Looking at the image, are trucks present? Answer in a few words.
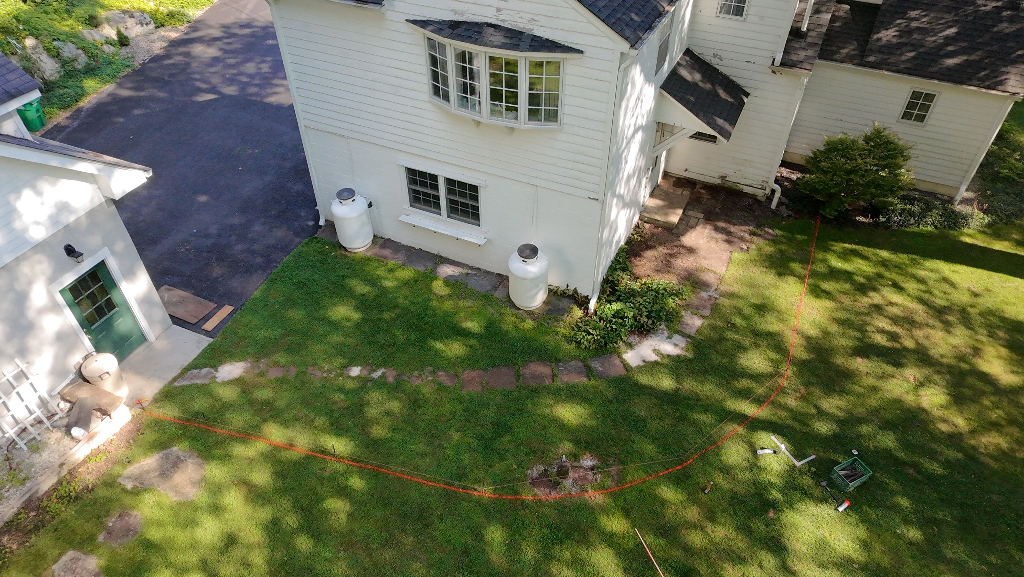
No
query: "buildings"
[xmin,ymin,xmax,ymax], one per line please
[0,43,171,463]
[244,0,1024,302]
